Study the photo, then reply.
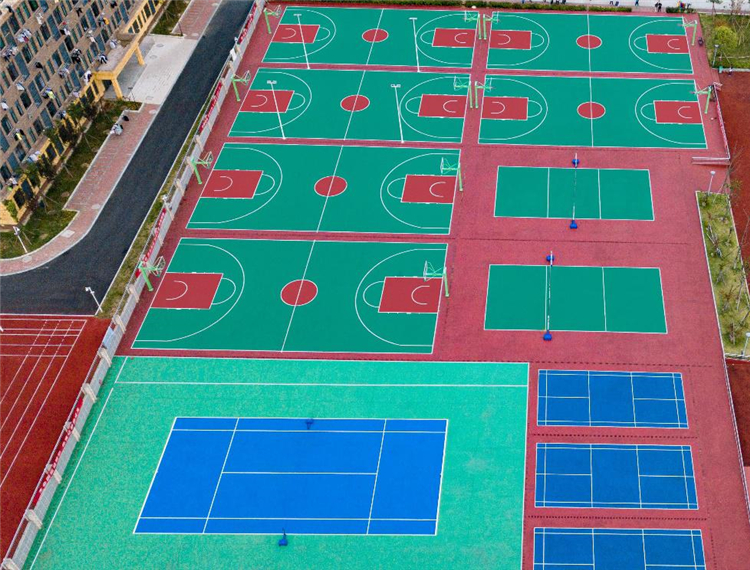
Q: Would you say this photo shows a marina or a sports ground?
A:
sports ground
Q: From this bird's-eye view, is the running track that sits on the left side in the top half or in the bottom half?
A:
bottom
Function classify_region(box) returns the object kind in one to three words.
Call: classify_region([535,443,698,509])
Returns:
sports court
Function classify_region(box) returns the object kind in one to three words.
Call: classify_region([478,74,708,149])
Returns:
basketball court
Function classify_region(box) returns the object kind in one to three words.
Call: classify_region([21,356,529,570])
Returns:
tennis court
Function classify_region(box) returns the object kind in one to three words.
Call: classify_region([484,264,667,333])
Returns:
sports court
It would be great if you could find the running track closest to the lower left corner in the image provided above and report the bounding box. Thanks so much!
[0,316,114,570]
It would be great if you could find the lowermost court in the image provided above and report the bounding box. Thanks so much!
[534,528,705,570]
